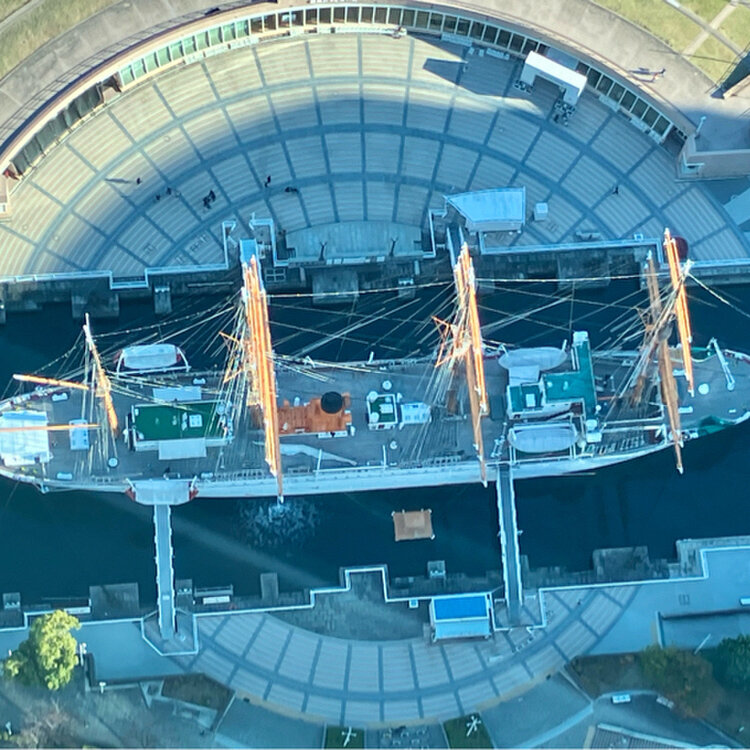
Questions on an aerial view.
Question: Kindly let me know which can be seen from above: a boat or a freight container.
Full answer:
The one in the frame is a boat.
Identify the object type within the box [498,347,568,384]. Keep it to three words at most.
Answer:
boat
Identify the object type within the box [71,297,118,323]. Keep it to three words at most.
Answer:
pier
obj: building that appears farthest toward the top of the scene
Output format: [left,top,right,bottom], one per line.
[0,0,688,193]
